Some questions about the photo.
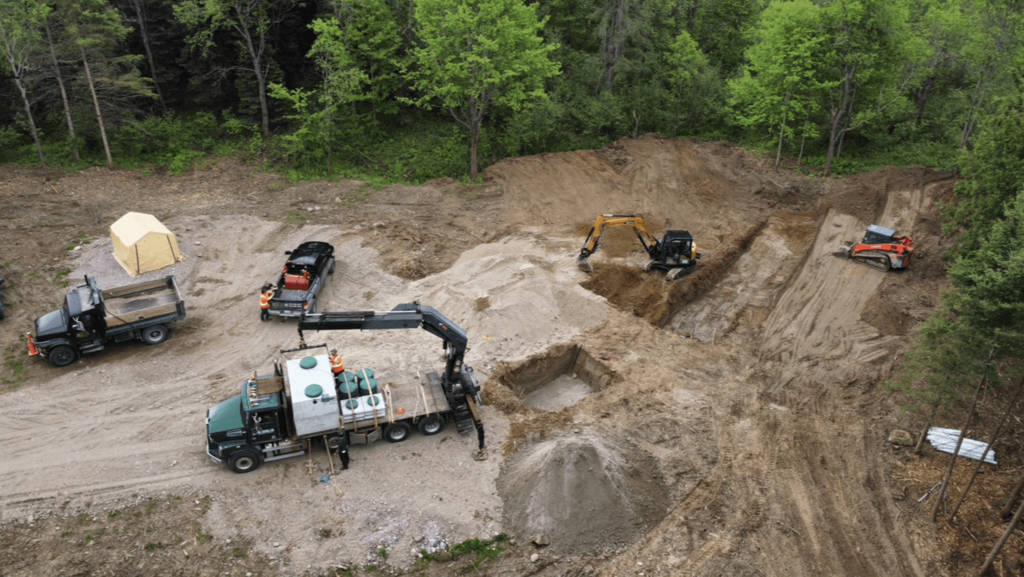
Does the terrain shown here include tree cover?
Yes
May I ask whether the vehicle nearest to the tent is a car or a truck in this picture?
truck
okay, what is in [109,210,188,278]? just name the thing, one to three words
tent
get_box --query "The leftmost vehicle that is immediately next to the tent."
[36,273,187,369]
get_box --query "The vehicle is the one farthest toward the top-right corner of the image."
[832,218,921,272]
